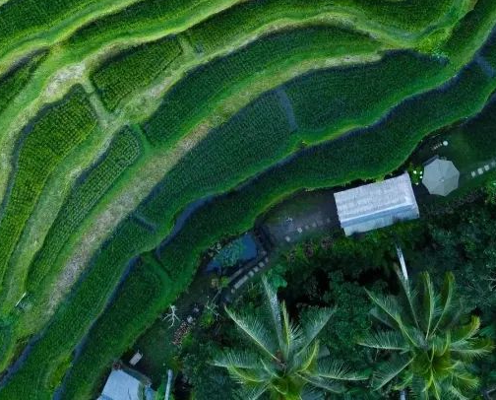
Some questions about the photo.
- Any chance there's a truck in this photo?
No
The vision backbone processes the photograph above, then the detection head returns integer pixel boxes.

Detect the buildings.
[334,169,420,237]
[94,365,156,400]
